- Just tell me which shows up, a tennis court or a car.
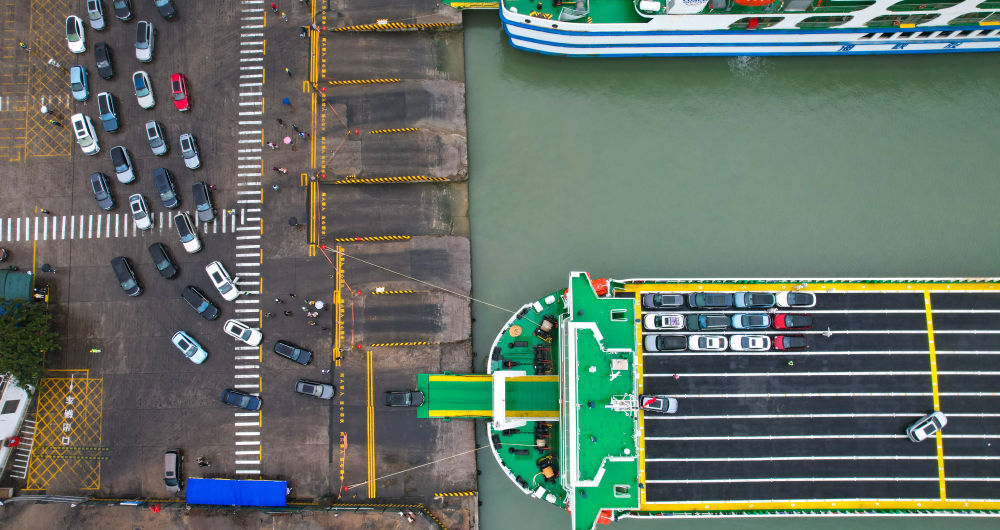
car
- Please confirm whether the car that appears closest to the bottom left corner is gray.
Yes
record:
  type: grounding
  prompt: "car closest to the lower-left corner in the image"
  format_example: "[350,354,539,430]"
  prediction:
[162,451,184,491]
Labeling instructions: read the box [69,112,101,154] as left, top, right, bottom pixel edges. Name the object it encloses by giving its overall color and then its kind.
white car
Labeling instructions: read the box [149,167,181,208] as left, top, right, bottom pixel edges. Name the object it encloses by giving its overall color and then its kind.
blue car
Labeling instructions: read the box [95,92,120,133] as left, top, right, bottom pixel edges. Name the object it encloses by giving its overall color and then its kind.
blue car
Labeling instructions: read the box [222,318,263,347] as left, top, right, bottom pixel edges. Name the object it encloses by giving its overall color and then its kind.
white car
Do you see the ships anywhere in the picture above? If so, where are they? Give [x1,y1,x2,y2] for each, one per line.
[417,271,1000,530]
[443,0,1000,58]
